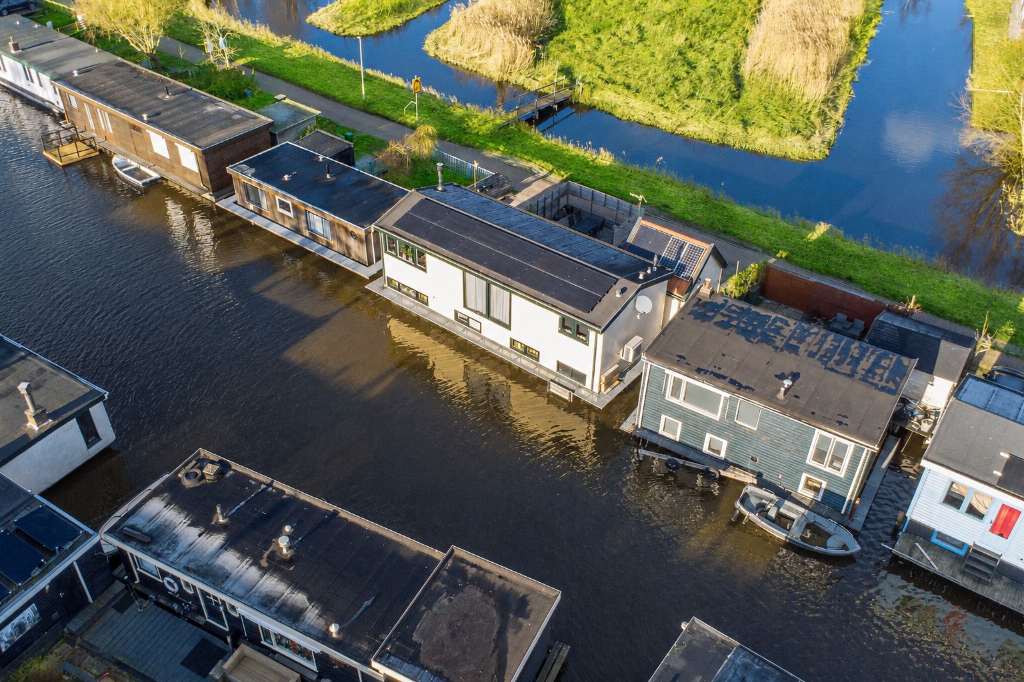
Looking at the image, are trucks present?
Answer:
No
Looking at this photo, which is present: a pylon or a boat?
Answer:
boat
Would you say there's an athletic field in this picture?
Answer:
No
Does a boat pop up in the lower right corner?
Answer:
Yes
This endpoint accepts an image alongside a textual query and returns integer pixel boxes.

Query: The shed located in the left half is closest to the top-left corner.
[256,93,326,141]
